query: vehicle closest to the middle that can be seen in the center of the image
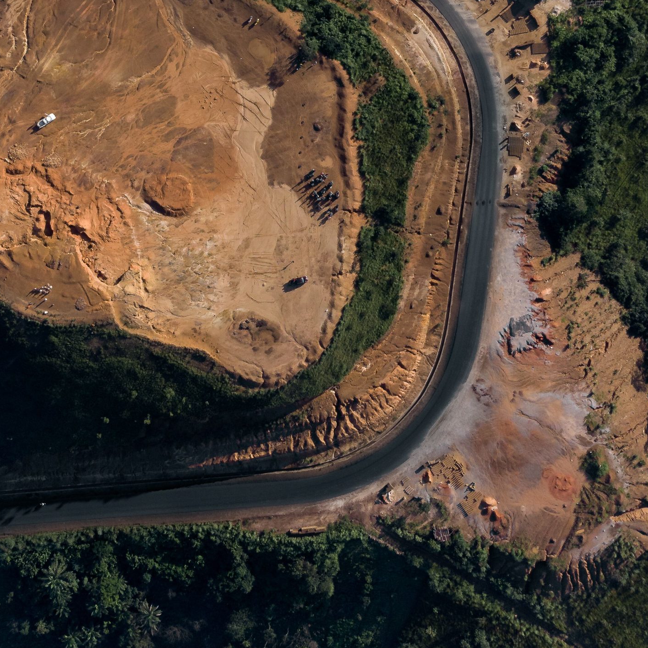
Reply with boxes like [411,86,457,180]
[285,275,309,289]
